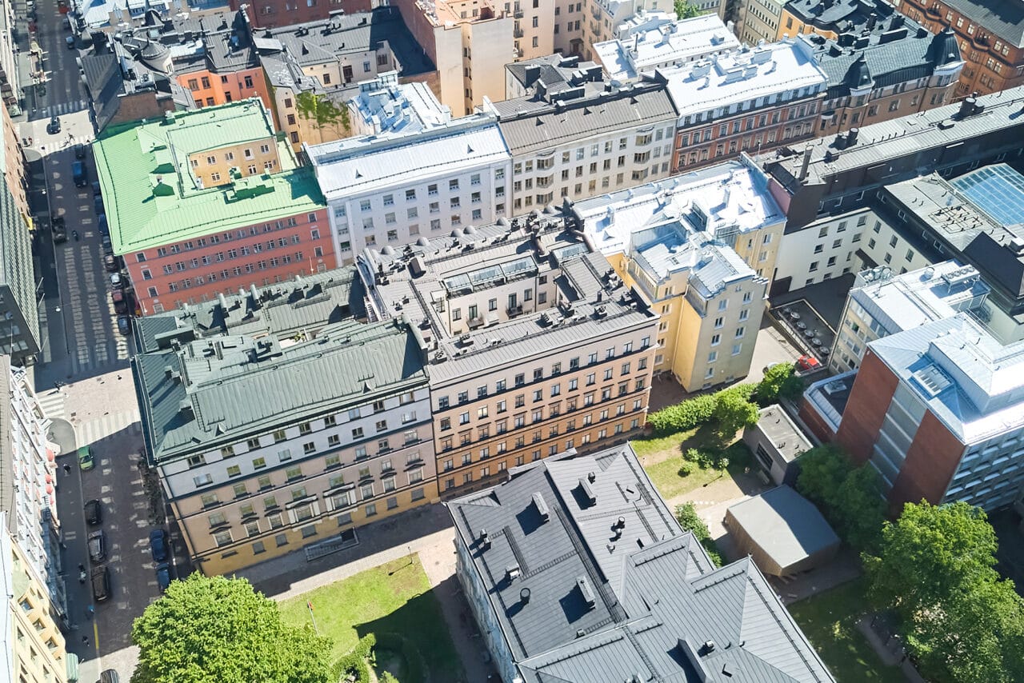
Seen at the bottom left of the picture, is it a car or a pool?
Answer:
car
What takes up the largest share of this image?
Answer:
buildings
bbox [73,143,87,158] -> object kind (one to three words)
car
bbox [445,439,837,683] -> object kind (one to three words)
building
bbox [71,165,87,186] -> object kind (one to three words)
vehicle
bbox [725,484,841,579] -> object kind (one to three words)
building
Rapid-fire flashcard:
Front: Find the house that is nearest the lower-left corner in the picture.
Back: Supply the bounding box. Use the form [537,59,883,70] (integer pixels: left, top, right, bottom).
[0,545,84,683]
